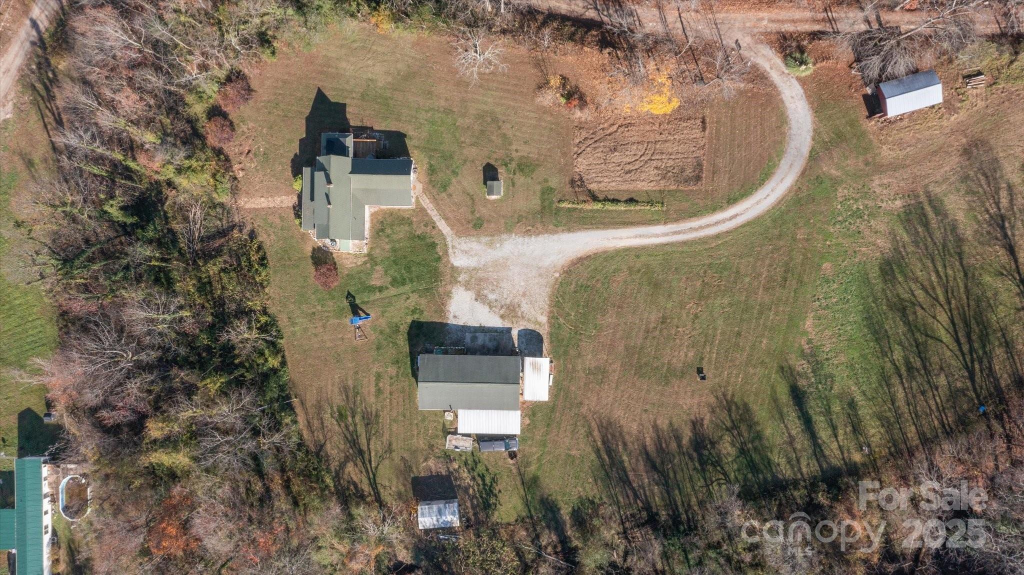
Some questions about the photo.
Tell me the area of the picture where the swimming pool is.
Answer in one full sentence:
The swimming pool is located in the bottom left region of the scene.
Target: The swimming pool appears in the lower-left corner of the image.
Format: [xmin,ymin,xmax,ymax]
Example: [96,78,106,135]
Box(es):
[54,475,90,524]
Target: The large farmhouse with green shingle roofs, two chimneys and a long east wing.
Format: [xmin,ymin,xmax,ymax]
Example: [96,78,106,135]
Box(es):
[301,132,416,241]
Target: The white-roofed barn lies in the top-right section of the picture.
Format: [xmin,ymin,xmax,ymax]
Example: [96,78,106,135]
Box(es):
[867,69,943,126]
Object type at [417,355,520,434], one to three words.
building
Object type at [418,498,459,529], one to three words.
shed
